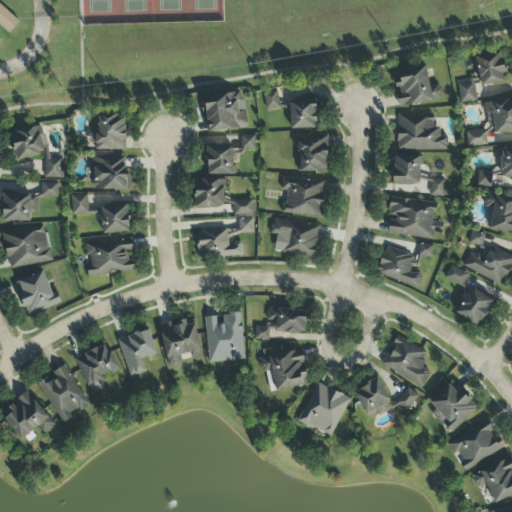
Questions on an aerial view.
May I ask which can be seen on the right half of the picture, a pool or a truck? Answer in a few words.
pool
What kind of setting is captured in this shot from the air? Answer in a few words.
residential area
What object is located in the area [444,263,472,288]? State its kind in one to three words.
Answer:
building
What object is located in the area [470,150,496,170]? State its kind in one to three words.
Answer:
swimming pool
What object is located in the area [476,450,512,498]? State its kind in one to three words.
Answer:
house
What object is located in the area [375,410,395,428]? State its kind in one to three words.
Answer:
swimming pool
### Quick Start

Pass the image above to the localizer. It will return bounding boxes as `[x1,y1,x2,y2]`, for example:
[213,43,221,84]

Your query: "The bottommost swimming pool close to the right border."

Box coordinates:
[472,196,488,225]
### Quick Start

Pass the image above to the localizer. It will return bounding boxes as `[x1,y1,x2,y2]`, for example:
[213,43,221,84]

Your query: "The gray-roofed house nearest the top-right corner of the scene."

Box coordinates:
[476,48,510,84]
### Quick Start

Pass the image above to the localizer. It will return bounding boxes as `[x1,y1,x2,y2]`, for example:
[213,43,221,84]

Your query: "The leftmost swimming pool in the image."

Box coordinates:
[44,124,65,148]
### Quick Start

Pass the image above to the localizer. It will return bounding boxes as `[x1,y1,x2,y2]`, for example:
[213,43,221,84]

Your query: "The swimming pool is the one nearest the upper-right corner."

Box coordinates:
[463,104,485,126]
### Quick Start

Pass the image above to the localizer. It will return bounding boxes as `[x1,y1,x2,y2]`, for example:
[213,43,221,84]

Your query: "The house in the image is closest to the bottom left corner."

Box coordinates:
[6,390,56,438]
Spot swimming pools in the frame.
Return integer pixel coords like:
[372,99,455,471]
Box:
[74,110,96,148]
[74,156,92,181]
[44,124,65,148]
[463,104,485,126]
[436,114,456,143]
[470,150,496,170]
[472,196,488,225]
[375,410,395,428]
